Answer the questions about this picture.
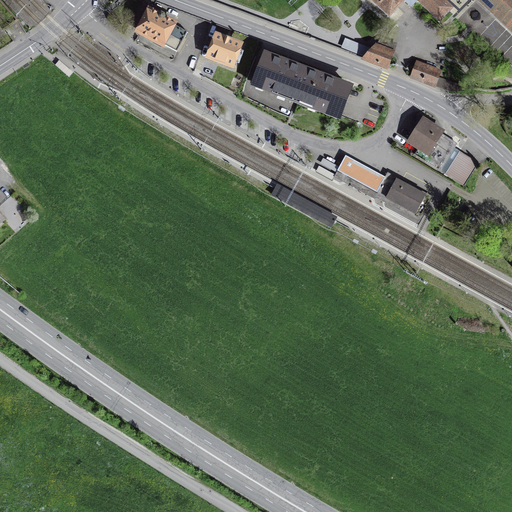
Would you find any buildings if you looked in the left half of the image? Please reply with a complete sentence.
Yes, a building appears in the left half of the image.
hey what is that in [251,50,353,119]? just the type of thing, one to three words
building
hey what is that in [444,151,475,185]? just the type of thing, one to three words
building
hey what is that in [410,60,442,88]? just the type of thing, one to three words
house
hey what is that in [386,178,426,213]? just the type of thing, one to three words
house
